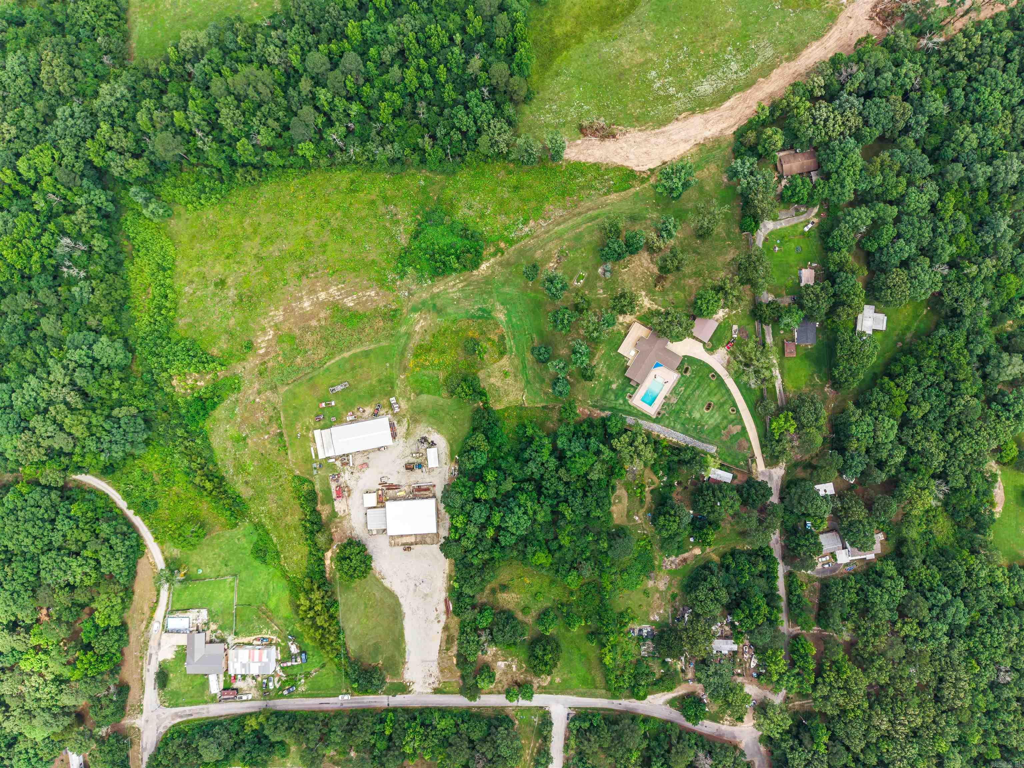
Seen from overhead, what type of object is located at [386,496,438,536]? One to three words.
building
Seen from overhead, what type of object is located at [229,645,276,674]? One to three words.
barn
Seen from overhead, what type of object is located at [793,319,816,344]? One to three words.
house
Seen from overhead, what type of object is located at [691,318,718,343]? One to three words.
building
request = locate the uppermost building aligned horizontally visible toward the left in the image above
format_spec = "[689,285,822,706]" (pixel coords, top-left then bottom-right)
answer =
[314,417,394,459]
